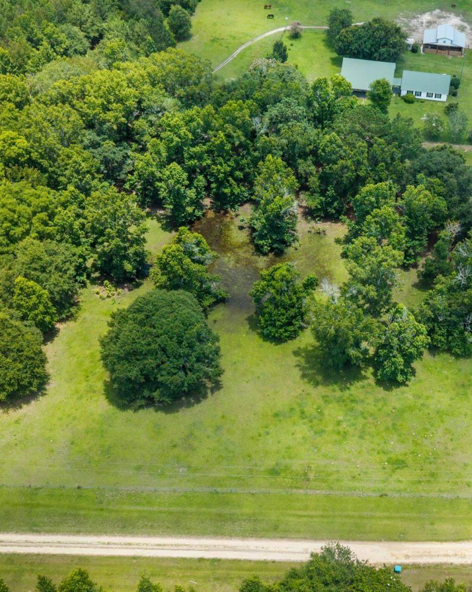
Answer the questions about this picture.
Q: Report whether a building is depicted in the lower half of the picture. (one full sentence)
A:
No, no building appears in the lower half of the picture.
